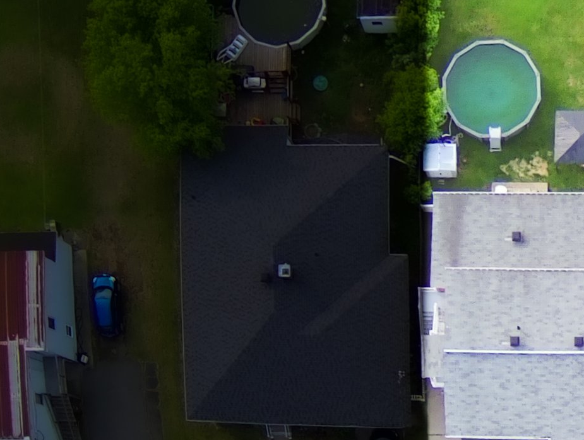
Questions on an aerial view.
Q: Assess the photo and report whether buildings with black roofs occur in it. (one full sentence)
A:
Yes, the frame does contain a building with a black roof.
